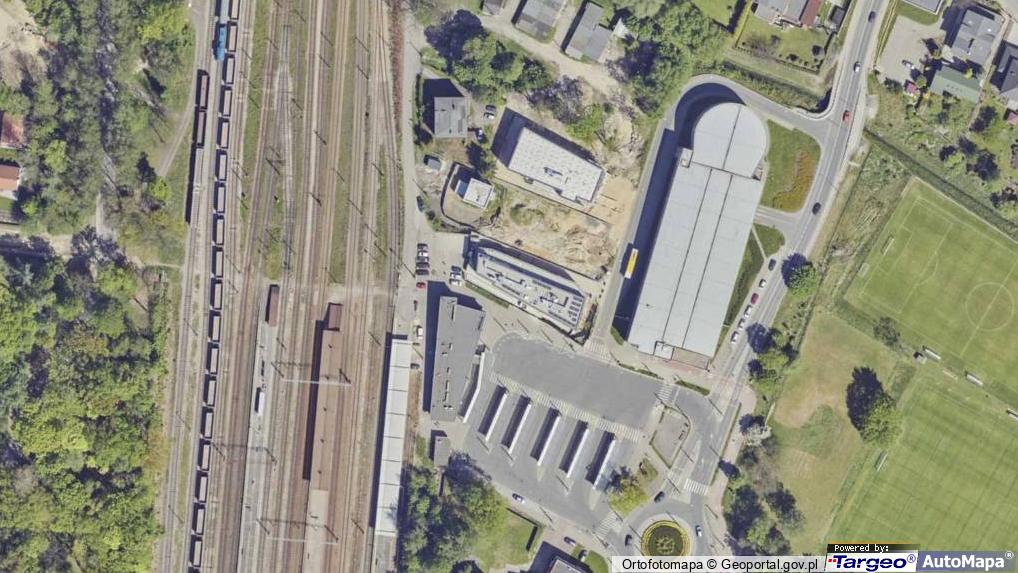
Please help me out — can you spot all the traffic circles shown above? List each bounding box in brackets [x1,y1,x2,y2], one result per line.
[621,497,713,571]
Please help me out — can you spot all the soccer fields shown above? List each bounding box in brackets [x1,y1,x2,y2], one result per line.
[842,177,1018,420]
[814,364,1018,573]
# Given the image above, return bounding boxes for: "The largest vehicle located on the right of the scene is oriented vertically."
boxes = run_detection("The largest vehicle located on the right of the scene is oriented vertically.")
[624,248,638,279]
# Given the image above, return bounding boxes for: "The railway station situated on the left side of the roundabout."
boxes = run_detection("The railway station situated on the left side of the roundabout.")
[238,286,411,573]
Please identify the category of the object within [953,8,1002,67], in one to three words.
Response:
house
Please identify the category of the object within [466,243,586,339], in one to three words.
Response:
building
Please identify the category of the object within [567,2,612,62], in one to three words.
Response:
shed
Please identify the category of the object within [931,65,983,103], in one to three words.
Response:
building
